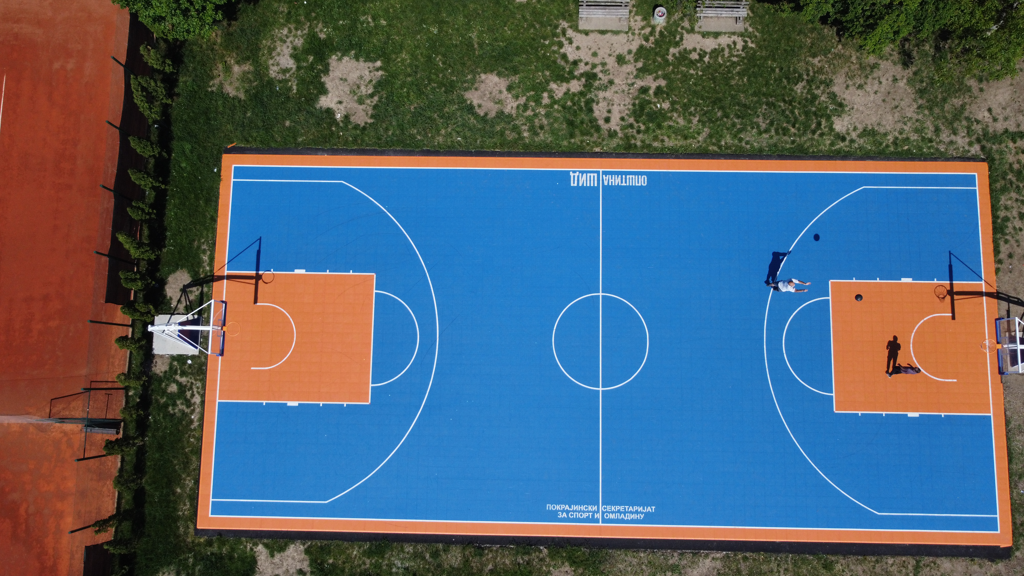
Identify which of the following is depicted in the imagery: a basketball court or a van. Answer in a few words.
basketball court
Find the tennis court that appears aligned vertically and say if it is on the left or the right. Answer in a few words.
left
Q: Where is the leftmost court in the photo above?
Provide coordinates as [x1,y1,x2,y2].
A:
[0,0,132,576]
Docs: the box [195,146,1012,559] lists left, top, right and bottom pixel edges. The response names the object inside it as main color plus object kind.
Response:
blue basketball court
